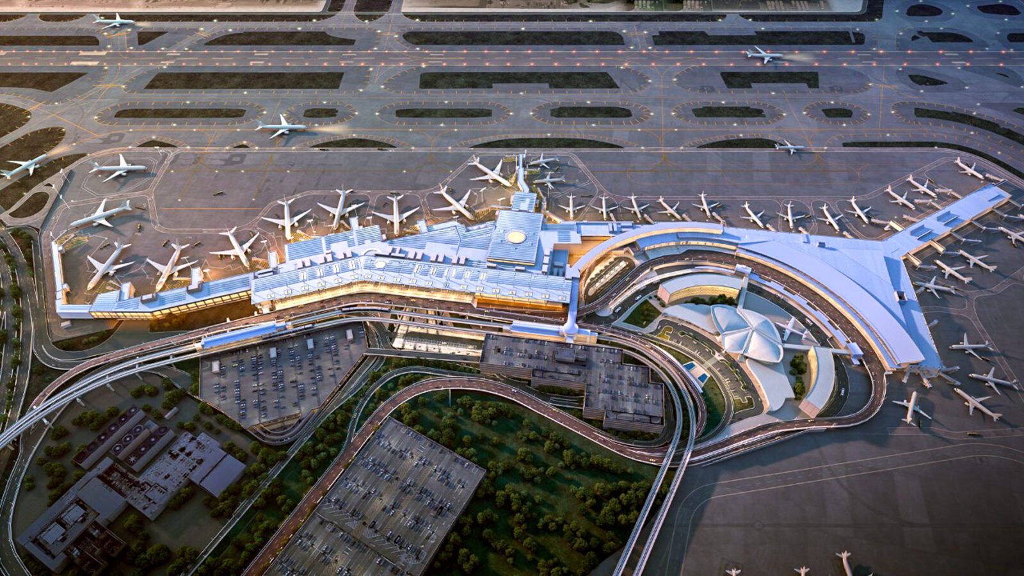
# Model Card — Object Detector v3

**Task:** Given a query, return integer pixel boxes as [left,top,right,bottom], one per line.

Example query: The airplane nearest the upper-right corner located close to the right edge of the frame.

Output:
[953,154,983,180]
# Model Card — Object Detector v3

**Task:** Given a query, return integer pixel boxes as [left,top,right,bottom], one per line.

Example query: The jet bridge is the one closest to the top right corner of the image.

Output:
[983,171,1005,187]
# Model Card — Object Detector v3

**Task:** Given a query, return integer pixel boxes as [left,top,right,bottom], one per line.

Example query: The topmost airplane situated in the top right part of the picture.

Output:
[746,44,782,61]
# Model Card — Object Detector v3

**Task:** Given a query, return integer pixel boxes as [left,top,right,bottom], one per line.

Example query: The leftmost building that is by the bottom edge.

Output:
[17,432,249,576]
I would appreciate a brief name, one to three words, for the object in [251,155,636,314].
building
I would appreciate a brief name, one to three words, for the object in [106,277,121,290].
jet bridge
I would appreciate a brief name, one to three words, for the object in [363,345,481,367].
bridge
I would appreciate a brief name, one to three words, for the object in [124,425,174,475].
cooling tower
